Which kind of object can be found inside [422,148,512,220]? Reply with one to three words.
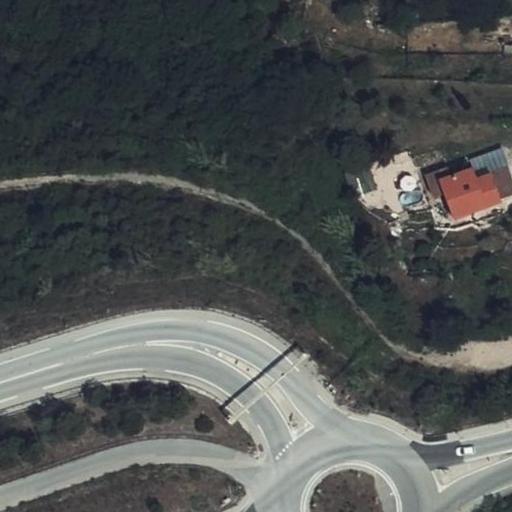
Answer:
house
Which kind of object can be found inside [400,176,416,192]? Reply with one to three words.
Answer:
umbrella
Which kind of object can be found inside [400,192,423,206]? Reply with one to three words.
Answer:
swimming pool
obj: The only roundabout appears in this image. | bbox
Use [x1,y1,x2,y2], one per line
[224,378,450,512]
